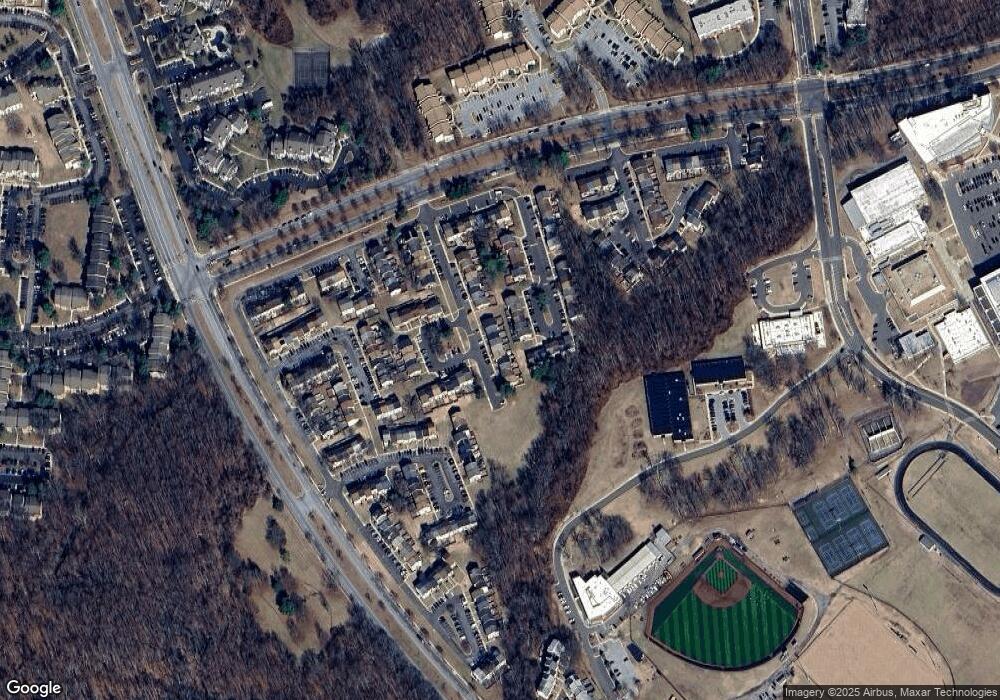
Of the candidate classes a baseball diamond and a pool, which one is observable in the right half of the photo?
baseball diamond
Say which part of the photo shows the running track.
bottom right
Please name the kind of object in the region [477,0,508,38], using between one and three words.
building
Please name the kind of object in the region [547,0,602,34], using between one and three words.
building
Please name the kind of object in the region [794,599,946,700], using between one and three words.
sports field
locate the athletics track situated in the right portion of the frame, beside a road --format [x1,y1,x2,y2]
[895,440,1000,594]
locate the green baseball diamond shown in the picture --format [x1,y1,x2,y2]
[645,535,802,671]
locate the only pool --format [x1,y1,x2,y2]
[202,23,233,60]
